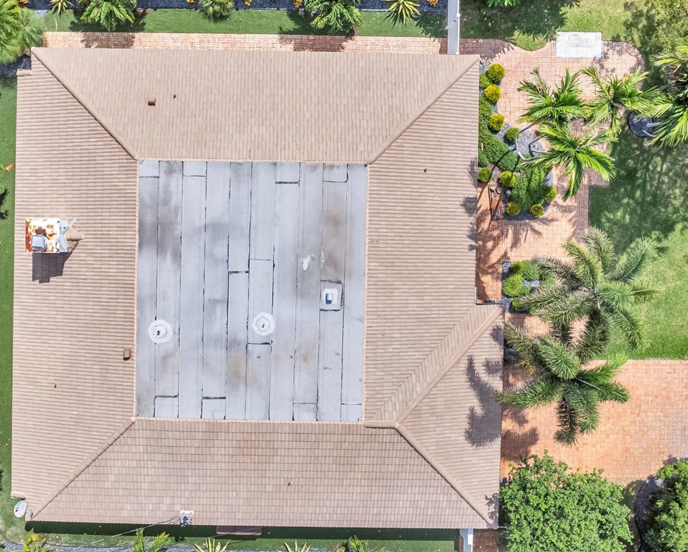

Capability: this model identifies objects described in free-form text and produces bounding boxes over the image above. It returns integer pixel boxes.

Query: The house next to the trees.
[8,43,508,534]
